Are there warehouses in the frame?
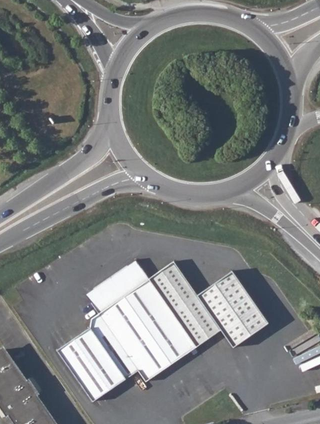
Yes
